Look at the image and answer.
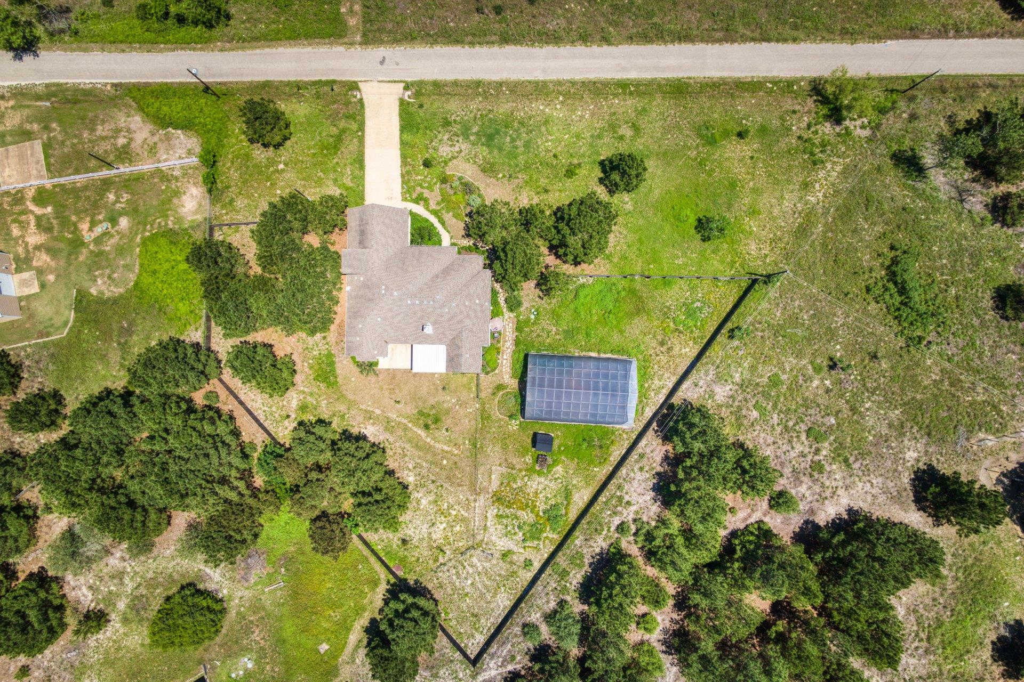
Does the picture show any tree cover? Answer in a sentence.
Yes, there's tree cover in this view.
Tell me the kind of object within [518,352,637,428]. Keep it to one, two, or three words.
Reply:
house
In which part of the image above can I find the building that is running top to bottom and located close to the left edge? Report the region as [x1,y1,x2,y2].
[0,252,29,322]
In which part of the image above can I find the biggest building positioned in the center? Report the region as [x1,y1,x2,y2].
[341,202,491,373]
